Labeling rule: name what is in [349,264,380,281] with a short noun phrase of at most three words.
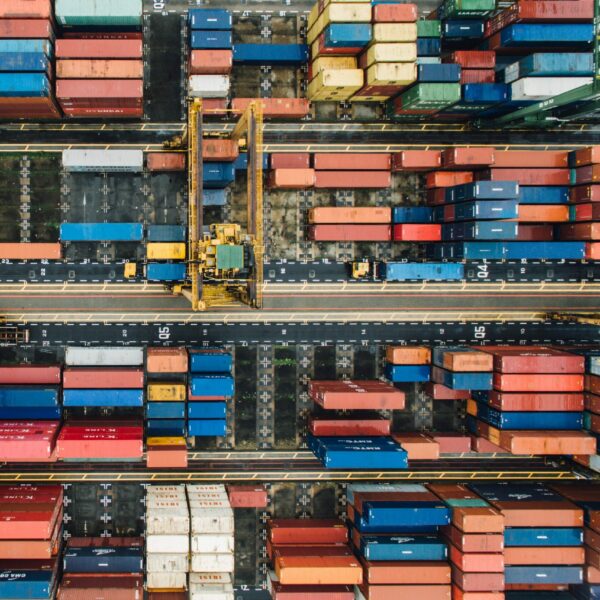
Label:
vehicle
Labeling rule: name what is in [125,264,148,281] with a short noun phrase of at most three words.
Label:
vehicle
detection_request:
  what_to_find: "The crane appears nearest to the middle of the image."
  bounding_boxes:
[169,95,264,313]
